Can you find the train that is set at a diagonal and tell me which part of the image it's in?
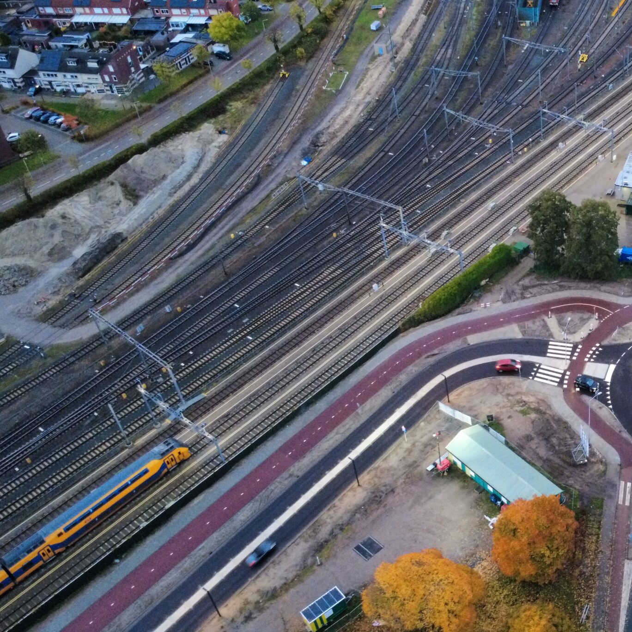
bottom left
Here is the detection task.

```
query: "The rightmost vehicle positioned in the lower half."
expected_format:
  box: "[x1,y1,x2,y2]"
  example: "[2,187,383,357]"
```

[573,374,601,394]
